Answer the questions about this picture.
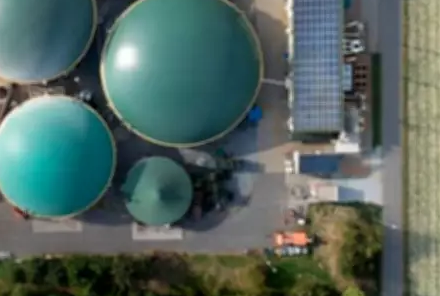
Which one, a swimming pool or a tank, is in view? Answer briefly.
tank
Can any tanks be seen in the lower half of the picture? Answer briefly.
Yes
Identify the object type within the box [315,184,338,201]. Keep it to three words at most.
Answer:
shed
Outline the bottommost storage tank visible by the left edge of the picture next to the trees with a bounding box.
[0,94,116,220]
